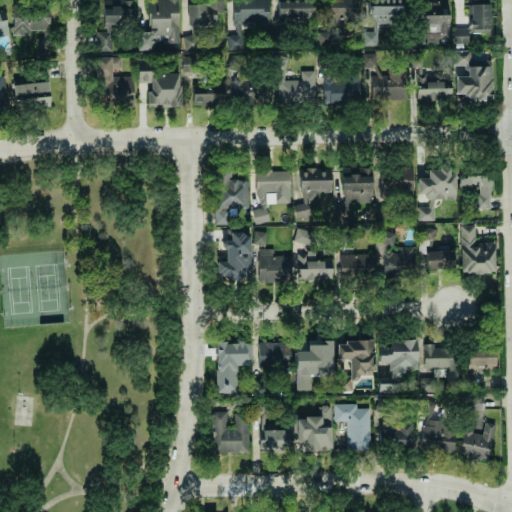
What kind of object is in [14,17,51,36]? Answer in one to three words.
house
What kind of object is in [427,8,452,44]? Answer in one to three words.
house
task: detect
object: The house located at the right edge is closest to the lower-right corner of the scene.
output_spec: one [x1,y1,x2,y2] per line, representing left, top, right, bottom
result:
[463,422,494,461]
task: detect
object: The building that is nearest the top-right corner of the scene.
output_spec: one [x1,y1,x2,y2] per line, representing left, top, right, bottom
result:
[469,4,494,34]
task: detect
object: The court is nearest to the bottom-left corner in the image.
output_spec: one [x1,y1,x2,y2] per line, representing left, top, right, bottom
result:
[15,396,34,426]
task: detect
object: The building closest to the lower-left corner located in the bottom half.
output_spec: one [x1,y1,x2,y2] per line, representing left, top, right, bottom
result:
[213,411,250,454]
